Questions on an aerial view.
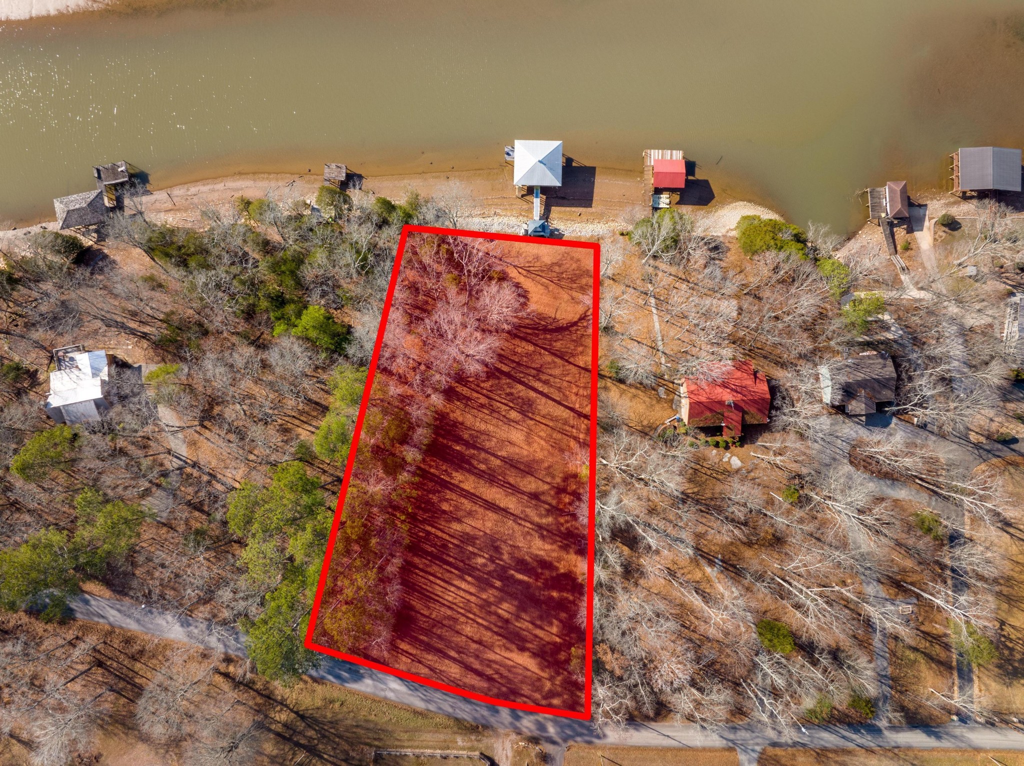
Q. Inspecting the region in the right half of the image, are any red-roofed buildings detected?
Yes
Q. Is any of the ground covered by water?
Yes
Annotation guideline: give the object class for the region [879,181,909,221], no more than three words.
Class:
building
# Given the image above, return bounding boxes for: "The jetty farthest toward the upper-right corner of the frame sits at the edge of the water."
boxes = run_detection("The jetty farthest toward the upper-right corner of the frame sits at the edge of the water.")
[863,187,897,258]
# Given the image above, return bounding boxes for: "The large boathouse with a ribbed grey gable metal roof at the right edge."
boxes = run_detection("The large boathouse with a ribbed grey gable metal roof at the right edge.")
[945,147,1021,196]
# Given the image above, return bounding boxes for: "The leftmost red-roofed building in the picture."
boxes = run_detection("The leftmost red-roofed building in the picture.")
[652,159,686,191]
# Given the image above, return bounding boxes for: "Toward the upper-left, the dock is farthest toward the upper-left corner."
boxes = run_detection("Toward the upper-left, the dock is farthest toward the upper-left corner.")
[89,158,136,209]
